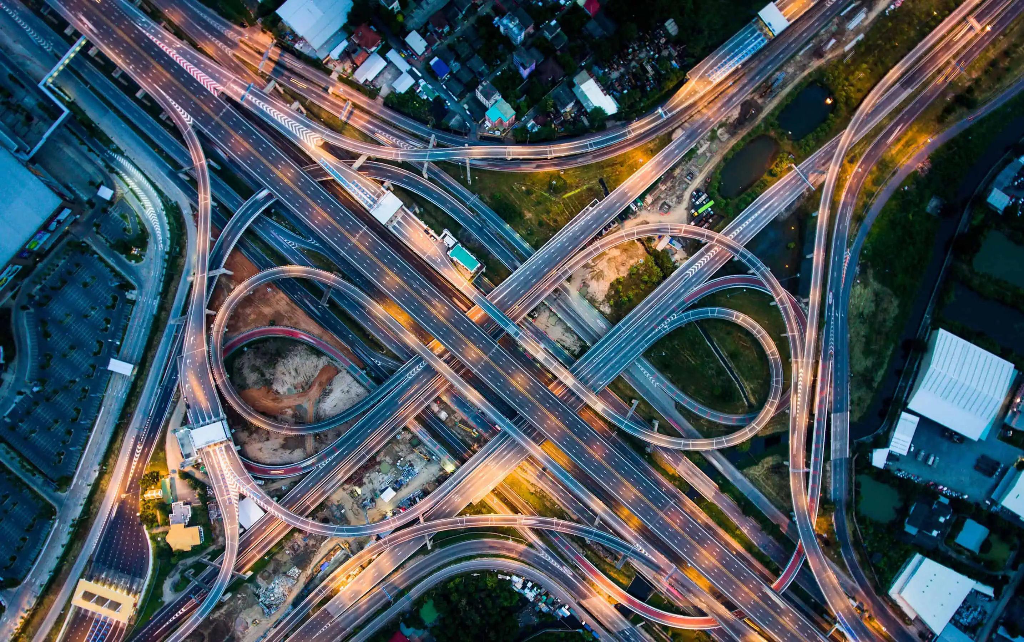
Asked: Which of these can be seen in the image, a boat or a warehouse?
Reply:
warehouse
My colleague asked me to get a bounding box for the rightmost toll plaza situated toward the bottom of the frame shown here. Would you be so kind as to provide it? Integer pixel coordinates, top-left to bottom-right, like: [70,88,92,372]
[190,421,231,460]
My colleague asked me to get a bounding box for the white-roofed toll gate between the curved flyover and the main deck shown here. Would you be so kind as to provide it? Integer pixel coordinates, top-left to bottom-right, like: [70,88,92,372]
[370,186,412,233]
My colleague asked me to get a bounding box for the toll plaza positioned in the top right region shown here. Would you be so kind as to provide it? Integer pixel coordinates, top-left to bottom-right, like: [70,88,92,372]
[748,0,793,48]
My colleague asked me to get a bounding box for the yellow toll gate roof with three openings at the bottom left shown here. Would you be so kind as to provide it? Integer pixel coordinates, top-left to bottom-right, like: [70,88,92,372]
[66,566,141,642]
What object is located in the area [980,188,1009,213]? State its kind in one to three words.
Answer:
house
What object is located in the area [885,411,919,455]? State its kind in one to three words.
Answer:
building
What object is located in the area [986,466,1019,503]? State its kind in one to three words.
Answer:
shed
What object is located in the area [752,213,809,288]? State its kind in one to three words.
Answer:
pond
